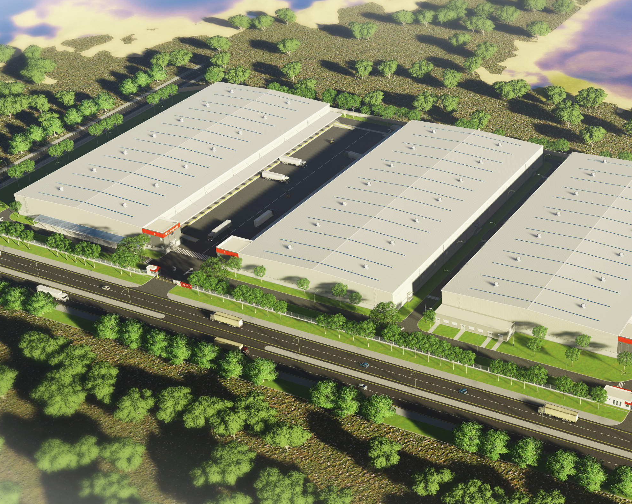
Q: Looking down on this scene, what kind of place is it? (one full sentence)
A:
The area seen from above is an industrial area.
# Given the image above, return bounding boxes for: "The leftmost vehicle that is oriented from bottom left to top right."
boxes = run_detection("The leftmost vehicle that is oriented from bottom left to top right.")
[209,220,232,241]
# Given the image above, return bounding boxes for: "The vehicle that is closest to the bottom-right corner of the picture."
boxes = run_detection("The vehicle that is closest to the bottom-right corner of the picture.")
[540,405,578,424]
